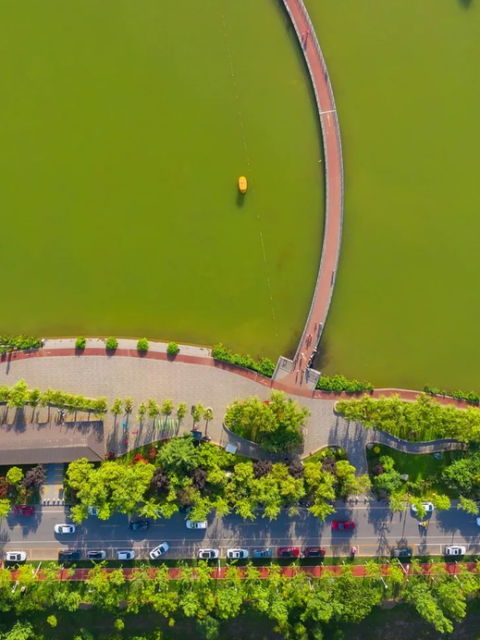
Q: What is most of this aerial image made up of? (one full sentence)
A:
What you mostly see from above here is water.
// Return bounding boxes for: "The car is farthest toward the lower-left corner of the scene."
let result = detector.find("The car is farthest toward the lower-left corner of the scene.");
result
[5,550,27,562]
